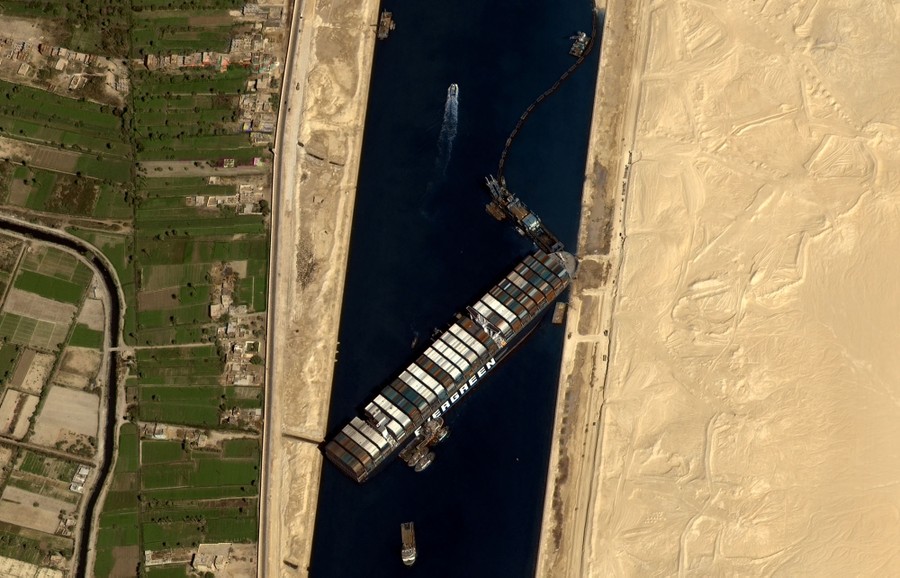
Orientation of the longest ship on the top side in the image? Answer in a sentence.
The longest ship on the top side runs diagonally in the image.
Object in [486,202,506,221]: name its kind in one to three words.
ship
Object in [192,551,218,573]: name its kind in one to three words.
house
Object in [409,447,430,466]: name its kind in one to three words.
boat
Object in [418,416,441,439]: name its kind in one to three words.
vessel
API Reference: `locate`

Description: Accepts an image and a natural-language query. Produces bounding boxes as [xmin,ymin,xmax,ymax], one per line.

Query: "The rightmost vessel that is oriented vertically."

[552,303,565,324]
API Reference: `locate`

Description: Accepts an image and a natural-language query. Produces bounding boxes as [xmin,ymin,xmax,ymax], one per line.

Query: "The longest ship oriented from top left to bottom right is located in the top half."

[485,175,565,254]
